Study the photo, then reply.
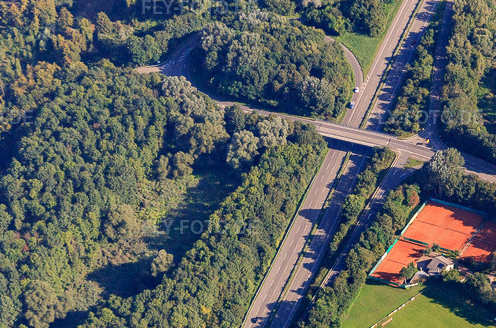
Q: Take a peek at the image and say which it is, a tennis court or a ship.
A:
tennis court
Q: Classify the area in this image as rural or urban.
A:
rural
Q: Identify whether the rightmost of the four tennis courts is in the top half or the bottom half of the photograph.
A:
bottom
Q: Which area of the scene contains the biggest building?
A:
bottom right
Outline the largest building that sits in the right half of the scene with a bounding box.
[429,254,454,277]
